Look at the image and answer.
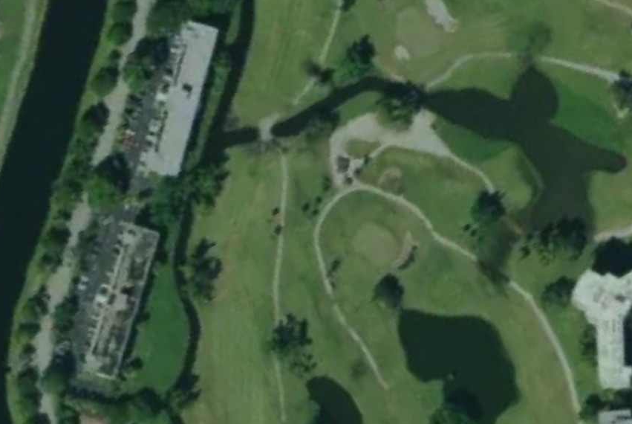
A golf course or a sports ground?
golf course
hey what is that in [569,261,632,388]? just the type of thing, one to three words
building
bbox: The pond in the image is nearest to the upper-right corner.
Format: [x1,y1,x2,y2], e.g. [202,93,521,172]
[422,66,627,240]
